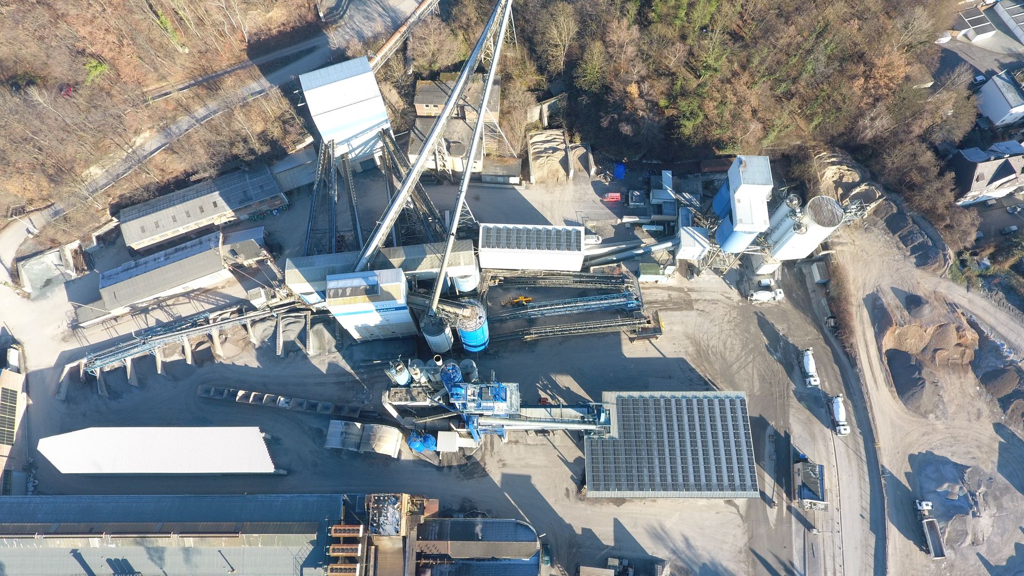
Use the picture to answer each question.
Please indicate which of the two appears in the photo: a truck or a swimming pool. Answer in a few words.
truck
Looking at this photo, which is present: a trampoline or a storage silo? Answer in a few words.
storage silo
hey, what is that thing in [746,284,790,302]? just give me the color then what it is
white vehicle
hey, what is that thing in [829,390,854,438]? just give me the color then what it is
white truck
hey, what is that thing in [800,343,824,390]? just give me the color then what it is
white truck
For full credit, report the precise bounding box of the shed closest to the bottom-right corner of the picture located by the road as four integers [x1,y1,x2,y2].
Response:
[794,461,831,509]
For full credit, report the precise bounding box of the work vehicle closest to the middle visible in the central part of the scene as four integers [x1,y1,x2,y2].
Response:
[497,294,528,309]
